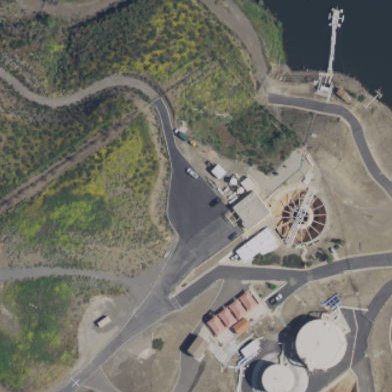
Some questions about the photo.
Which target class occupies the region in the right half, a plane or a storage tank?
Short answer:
storage tank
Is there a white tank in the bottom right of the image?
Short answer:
Yes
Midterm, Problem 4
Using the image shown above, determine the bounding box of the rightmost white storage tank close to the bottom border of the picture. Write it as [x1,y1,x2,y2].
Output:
[296,320,350,374]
